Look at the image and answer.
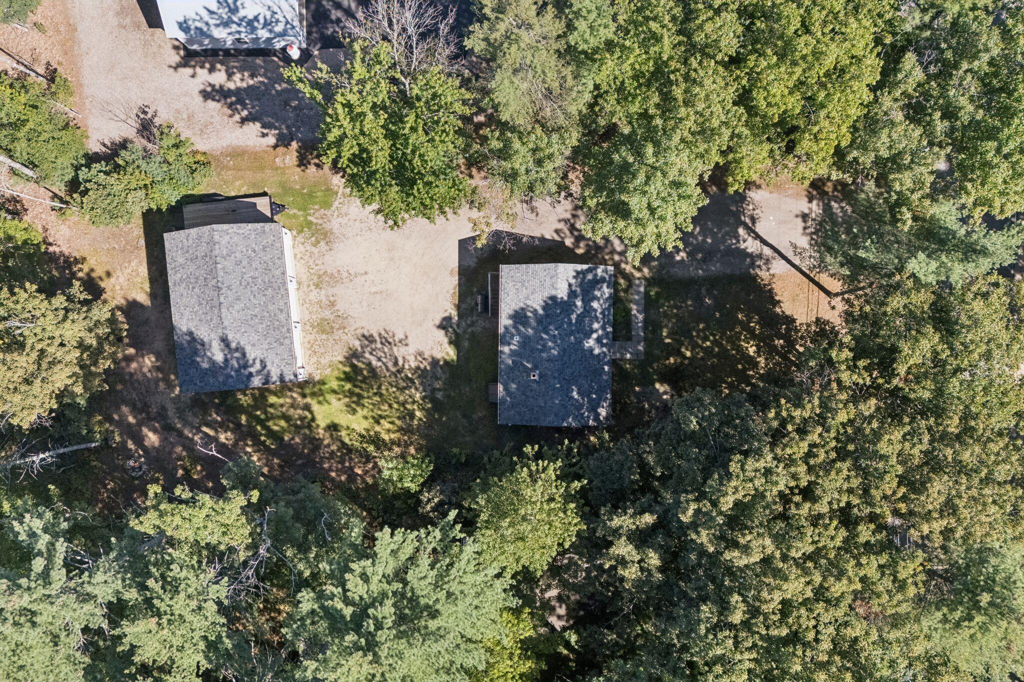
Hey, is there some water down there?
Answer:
No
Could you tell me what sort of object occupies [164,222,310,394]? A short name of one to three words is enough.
building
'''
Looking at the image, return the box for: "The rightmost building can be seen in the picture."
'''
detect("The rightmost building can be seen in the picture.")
[496,262,614,428]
